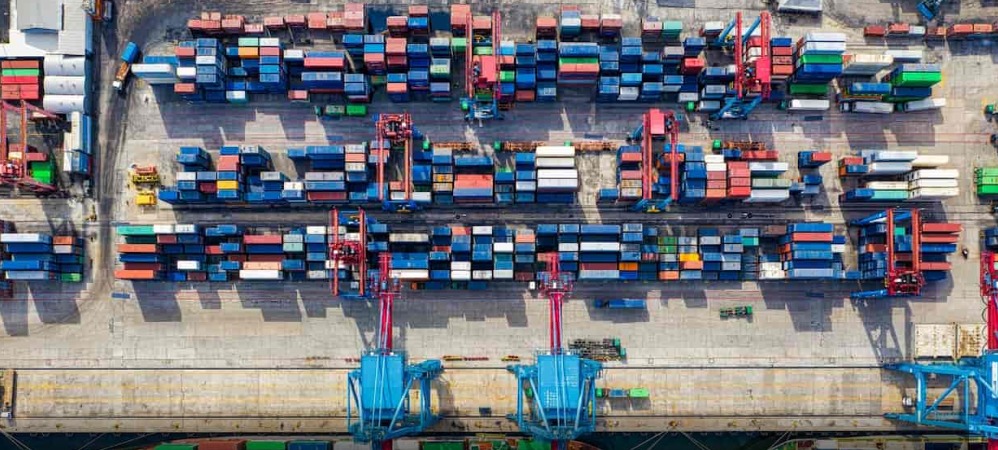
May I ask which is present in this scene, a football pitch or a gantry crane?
gantry crane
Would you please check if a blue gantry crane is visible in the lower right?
Yes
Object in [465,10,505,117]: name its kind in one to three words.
container crane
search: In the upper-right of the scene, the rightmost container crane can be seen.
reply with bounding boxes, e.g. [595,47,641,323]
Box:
[710,11,771,117]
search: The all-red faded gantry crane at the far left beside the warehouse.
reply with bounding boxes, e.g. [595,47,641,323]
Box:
[0,97,72,195]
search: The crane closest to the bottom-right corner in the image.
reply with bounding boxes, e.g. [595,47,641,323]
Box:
[882,251,998,450]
